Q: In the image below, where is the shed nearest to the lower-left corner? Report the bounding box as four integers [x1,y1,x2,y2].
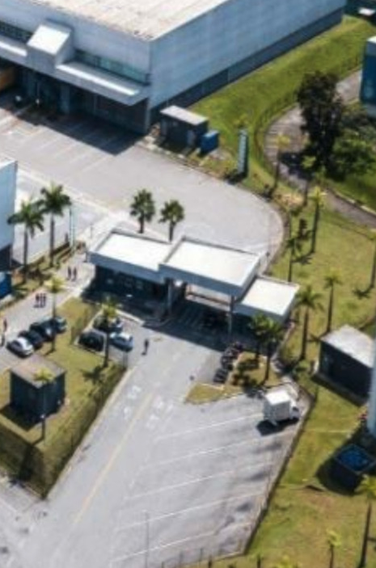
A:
[10,355,66,420]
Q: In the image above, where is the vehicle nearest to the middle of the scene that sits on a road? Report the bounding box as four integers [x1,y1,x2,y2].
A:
[208,311,223,331]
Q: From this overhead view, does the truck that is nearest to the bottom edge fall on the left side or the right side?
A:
right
